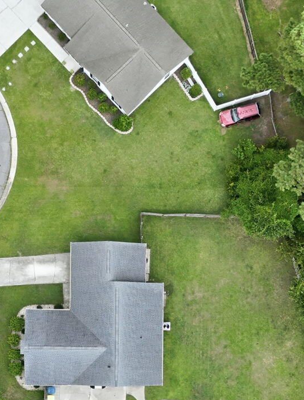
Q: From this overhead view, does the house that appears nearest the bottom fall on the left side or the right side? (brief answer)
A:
left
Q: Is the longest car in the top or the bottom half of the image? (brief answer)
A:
top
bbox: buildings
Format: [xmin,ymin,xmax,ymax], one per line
[21,240,165,389]
[34,0,193,118]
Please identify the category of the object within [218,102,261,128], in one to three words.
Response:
car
